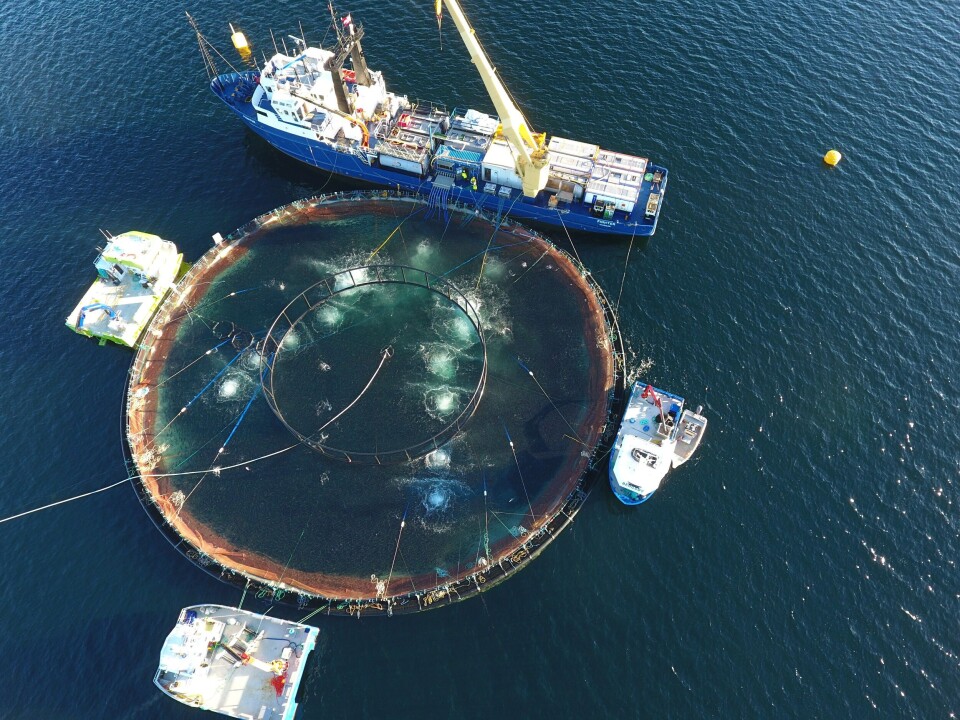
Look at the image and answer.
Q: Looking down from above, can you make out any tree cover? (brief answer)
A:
No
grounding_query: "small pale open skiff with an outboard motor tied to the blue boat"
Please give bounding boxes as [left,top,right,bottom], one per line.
[673,406,708,471]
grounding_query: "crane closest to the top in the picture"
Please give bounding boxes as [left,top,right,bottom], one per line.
[435,0,558,196]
